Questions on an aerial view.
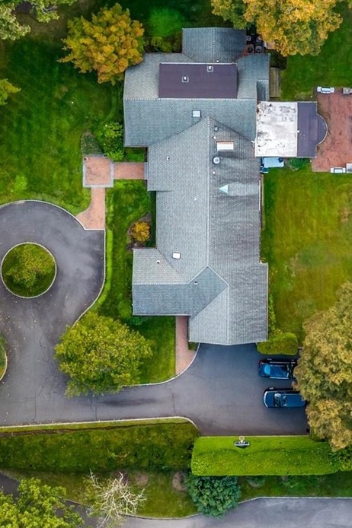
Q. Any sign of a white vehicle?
No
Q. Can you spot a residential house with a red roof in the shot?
No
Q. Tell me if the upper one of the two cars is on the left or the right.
right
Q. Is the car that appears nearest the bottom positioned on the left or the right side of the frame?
right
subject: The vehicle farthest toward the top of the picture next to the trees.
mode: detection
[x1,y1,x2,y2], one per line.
[257,357,300,379]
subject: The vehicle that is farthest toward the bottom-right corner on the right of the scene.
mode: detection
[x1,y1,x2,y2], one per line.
[263,388,304,410]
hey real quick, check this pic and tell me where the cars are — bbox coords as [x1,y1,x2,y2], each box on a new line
[257,357,300,379]
[263,388,304,410]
